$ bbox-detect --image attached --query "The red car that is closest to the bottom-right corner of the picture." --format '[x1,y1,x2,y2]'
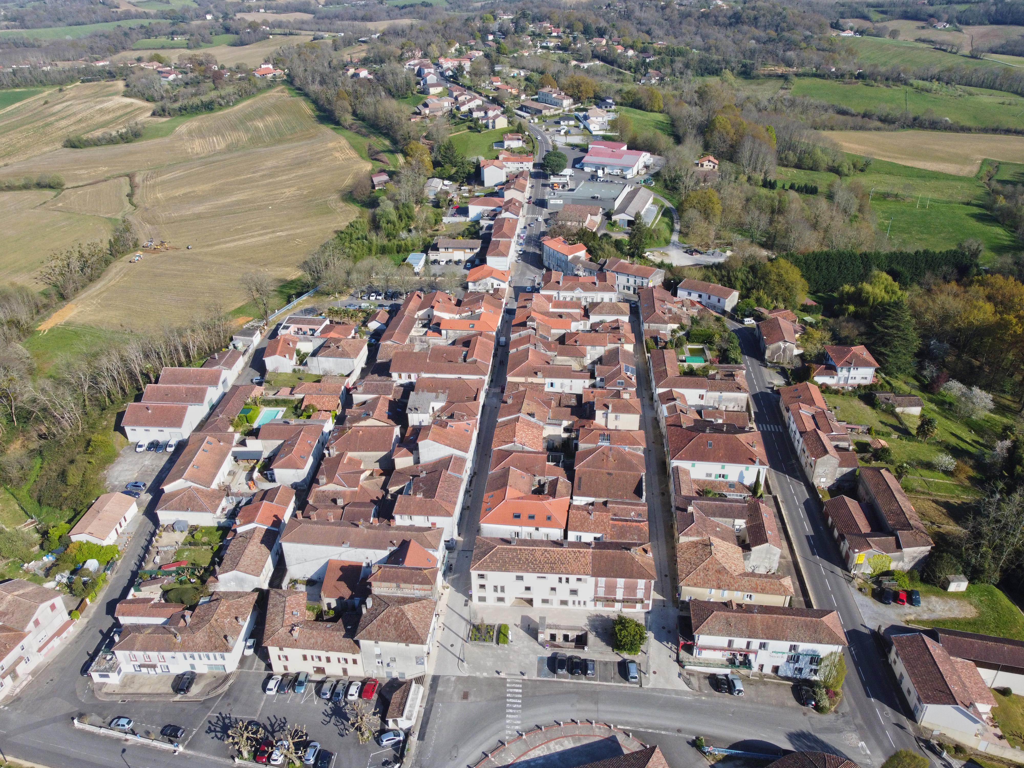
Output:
[897,588,909,604]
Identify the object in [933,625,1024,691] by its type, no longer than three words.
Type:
barn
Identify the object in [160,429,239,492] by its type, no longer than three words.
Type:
house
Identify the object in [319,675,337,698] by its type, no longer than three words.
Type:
car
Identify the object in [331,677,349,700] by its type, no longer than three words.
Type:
car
